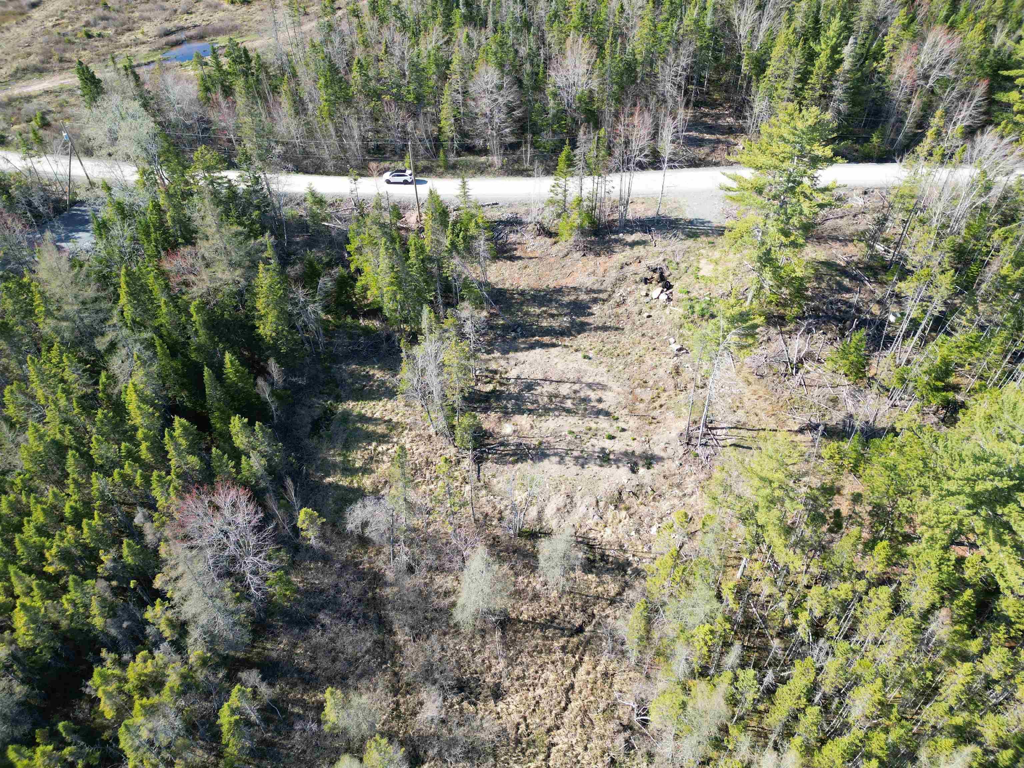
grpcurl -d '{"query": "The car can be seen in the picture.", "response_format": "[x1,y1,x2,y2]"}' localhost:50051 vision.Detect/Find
[383,167,414,182]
